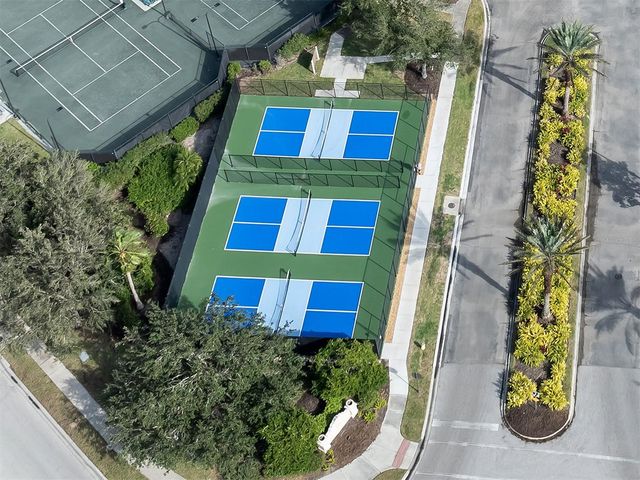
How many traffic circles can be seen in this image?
none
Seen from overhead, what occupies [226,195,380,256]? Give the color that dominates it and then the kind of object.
blue sports court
